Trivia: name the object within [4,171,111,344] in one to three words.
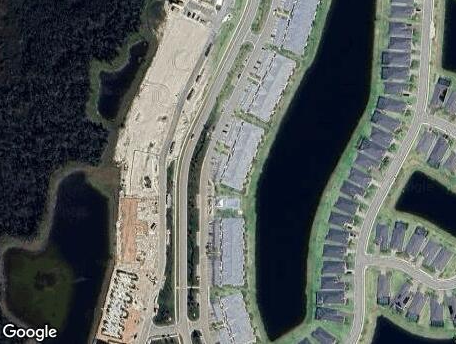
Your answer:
pond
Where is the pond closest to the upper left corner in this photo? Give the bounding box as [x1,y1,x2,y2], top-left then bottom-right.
[99,41,147,119]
